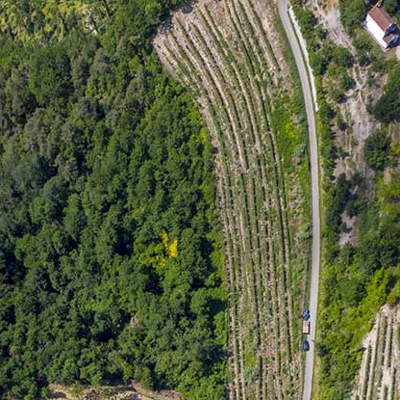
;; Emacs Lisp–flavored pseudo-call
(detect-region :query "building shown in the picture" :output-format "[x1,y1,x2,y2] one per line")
[364,1,397,44]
